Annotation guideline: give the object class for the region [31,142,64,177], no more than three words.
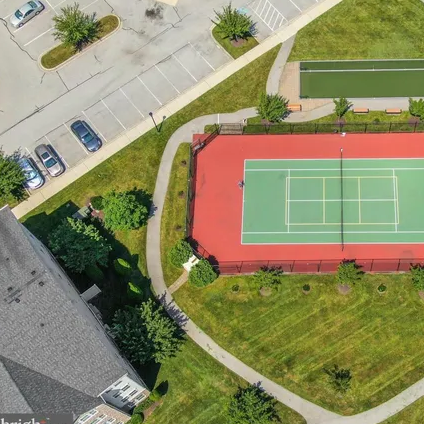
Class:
car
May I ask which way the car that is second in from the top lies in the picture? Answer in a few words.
at an angle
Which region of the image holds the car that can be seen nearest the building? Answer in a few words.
left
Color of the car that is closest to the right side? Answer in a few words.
blue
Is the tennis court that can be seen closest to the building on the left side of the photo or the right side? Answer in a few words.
right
